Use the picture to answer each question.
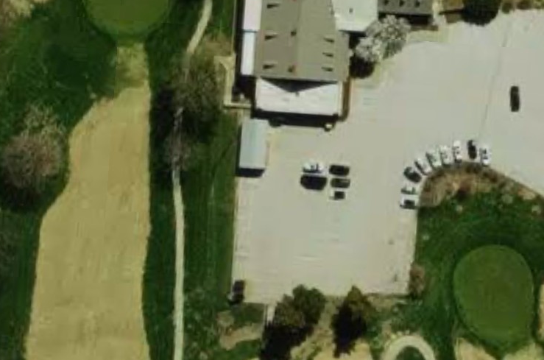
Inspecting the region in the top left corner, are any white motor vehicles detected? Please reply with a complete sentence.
No, no white motor vehicle can be made out in the top left corner.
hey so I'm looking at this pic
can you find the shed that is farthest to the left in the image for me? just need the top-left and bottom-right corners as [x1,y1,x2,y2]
[239,121,269,169]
